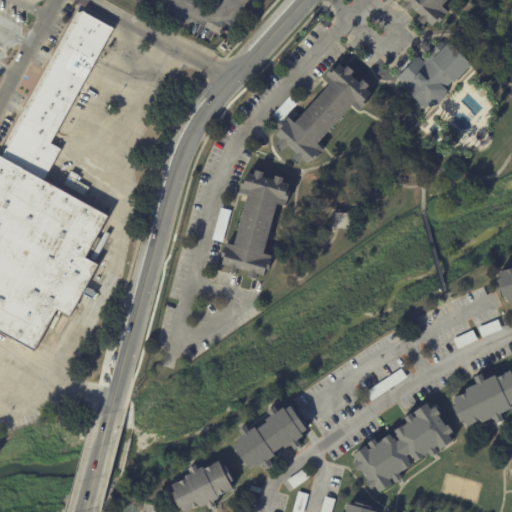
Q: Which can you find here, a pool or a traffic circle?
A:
pool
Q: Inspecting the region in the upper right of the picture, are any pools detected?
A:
Yes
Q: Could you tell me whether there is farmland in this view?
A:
No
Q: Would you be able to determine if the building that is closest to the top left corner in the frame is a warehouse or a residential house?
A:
warehouse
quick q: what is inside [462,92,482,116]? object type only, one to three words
swimming pool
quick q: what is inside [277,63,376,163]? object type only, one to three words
building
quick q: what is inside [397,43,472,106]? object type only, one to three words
building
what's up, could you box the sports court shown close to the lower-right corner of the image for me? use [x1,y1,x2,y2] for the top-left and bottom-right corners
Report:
[442,474,482,504]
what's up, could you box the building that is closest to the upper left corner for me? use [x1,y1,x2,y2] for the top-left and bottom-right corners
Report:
[2,11,114,180]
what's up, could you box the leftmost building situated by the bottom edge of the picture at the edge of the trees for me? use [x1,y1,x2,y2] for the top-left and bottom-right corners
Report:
[172,462,233,511]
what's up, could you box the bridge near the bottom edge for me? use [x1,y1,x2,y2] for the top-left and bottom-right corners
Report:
[67,404,127,512]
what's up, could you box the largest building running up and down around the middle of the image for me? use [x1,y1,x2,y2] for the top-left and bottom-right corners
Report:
[222,172,291,278]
